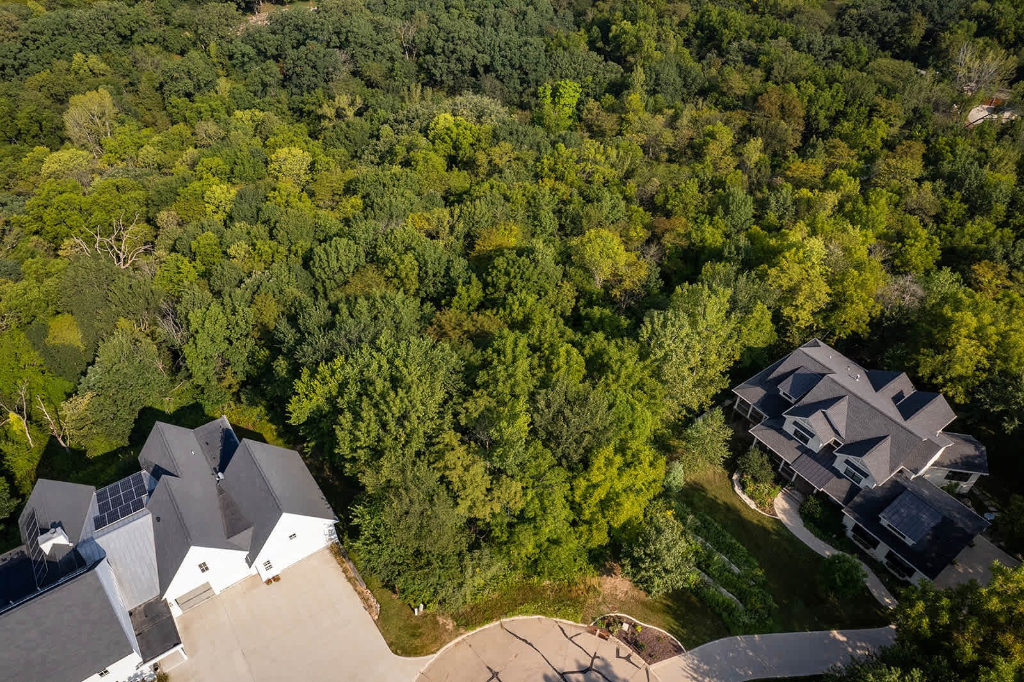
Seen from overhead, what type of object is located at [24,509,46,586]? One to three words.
solar array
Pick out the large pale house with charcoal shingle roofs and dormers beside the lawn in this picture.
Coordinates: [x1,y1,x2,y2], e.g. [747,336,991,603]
[729,337,991,586]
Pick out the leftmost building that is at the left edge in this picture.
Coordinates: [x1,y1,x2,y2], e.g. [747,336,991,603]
[0,416,341,682]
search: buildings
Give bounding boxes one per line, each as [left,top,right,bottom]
[729,337,991,586]
[0,416,341,682]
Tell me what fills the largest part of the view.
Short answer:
trees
